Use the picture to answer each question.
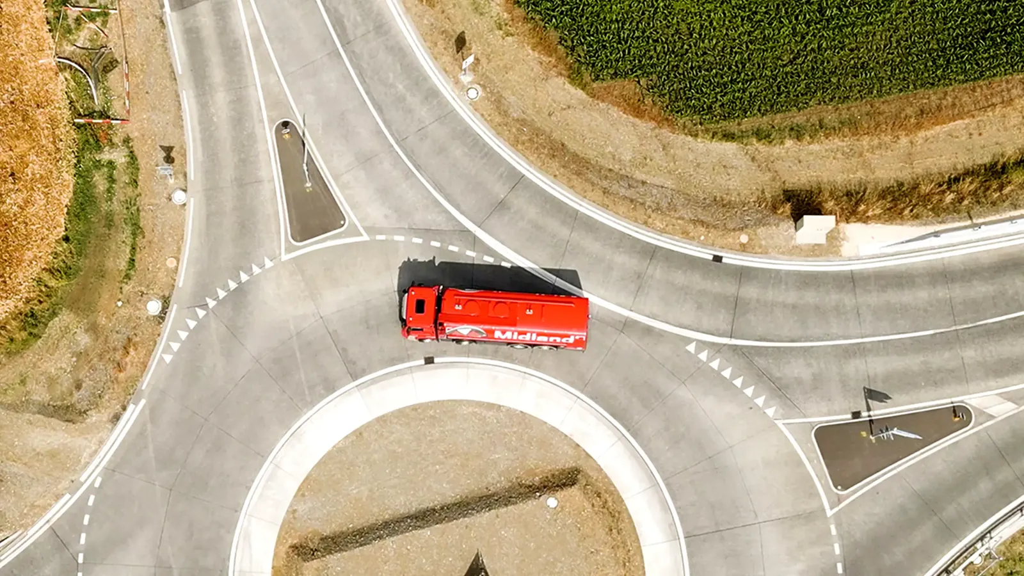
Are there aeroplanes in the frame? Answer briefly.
No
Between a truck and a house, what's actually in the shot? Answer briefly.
truck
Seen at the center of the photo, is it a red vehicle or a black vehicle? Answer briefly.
red vehicle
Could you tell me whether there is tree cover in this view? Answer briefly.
No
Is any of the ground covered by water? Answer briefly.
No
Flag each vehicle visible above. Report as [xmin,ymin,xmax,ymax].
[397,283,591,350]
